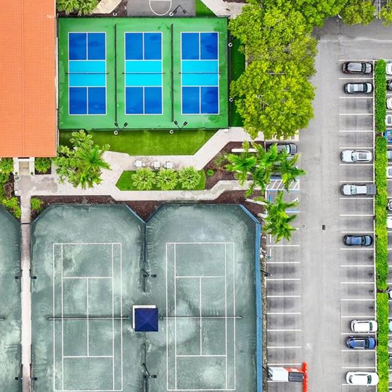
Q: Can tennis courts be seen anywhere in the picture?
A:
Yes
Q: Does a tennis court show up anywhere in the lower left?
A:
Yes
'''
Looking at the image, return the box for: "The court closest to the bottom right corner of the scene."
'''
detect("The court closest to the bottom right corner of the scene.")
[144,206,257,392]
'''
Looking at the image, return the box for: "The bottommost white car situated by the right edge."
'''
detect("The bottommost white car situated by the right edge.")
[345,372,378,388]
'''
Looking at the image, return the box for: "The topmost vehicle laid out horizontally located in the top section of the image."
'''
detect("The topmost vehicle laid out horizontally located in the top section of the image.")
[341,60,372,74]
